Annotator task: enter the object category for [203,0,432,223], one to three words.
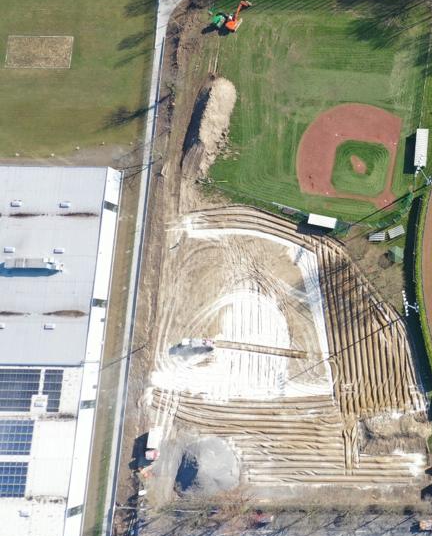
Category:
baseball field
